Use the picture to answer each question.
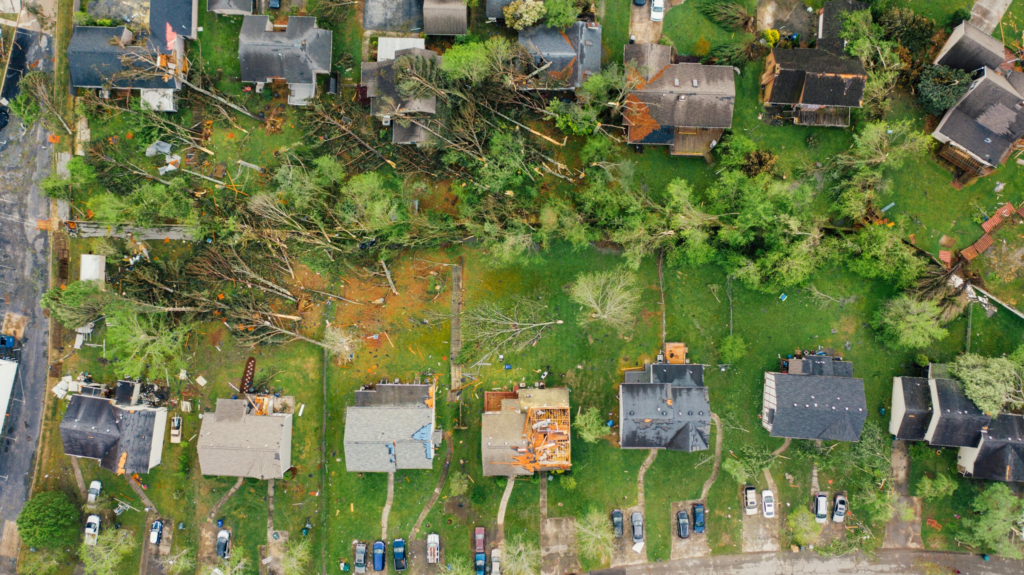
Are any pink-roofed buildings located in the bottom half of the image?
No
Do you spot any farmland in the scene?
No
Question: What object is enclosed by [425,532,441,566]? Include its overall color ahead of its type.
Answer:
white car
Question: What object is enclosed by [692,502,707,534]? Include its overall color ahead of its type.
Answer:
blue car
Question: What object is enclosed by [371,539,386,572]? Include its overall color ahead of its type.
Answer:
blue car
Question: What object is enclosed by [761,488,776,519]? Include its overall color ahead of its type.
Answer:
white car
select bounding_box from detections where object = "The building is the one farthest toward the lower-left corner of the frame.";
[55,380,165,474]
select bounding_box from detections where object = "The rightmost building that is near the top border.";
[932,20,1024,190]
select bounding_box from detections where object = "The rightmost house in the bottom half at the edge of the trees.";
[886,362,1024,486]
